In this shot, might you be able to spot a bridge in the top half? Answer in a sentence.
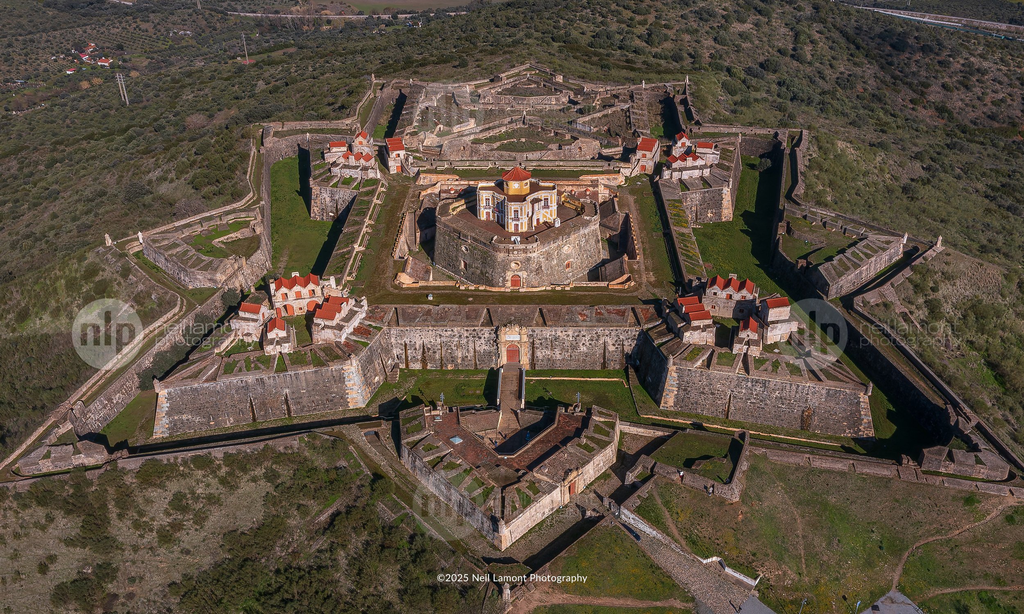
No, no bridge is visible in the top half.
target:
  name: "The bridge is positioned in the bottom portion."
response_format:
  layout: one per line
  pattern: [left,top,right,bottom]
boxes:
[492,367,522,446]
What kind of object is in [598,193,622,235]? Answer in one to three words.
shed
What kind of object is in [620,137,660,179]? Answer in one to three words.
house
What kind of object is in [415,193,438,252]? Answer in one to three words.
shed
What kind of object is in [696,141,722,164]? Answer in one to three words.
house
